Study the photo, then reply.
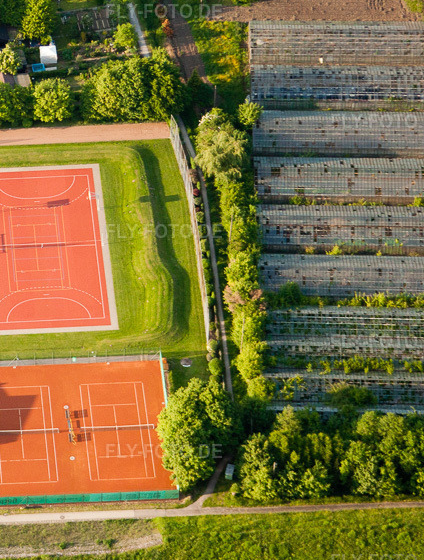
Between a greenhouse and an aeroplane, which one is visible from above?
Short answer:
greenhouse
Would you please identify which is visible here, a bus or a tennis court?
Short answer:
tennis court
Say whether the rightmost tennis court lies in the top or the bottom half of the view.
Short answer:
bottom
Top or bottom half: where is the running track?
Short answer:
top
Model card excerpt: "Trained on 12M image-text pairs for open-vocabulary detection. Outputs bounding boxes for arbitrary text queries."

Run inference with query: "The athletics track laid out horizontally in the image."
[0,122,172,144]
